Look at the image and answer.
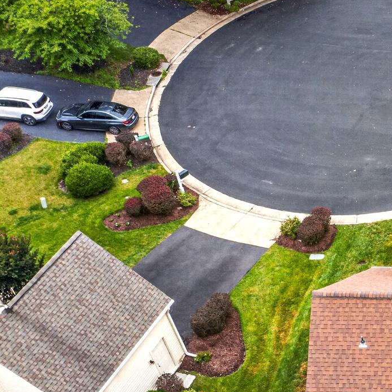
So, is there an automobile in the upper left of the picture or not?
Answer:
Yes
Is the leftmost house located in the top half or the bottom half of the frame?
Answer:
bottom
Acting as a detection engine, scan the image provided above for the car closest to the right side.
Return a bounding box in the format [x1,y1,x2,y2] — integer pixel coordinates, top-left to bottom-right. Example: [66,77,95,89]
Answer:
[52,99,139,135]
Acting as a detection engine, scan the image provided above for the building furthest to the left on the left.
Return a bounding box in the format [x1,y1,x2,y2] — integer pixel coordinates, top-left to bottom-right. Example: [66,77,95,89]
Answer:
[0,237,209,392]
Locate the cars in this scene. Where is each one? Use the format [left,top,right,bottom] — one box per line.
[52,99,139,135]
[0,85,51,126]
